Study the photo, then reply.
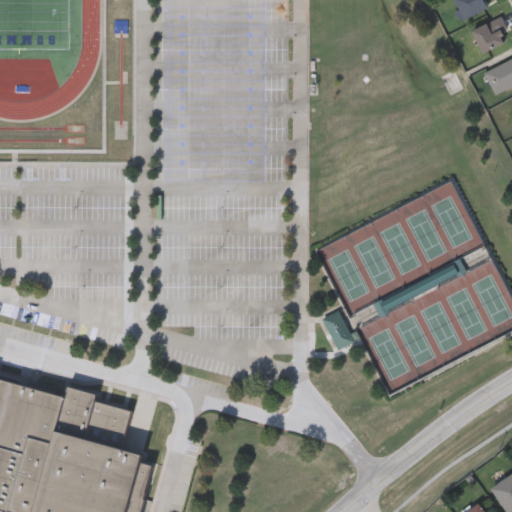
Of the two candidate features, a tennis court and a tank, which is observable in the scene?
tennis court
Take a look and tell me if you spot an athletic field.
Yes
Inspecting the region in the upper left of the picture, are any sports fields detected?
Yes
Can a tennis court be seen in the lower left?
No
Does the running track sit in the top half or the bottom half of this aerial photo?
top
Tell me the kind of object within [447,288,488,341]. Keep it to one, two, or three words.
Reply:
tennis court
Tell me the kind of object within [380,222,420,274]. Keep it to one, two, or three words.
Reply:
tennis court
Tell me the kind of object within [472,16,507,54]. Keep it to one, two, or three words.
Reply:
house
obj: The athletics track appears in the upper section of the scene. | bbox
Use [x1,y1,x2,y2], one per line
[0,0,102,122]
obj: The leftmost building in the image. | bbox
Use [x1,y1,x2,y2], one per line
[0,377,153,512]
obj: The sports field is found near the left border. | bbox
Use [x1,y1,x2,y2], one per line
[0,0,82,102]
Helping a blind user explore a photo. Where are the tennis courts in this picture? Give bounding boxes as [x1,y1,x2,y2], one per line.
[380,222,420,274]
[472,276,512,328]
[447,288,488,341]
[395,315,436,367]
[406,209,446,262]
[369,328,410,380]
[421,302,462,354]
[354,236,394,288]
[328,248,368,300]
[432,196,472,248]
